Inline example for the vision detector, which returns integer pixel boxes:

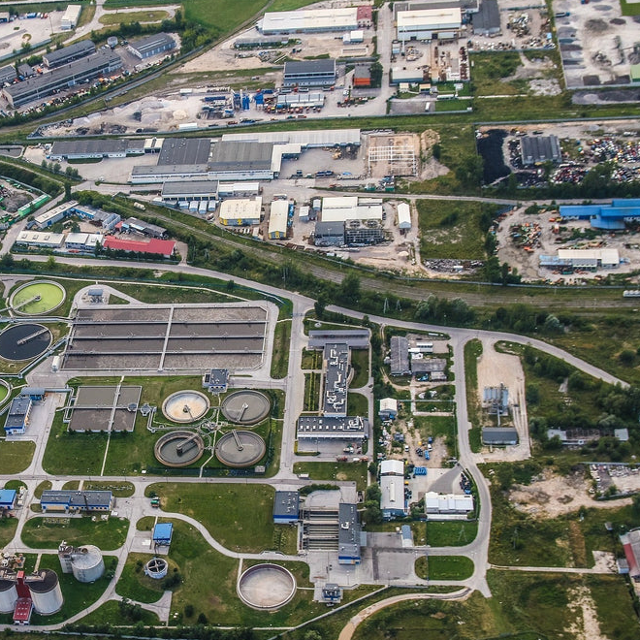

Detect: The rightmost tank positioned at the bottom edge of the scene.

[238,563,296,610]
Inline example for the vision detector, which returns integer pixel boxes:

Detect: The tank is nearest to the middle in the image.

[221,390,271,425]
